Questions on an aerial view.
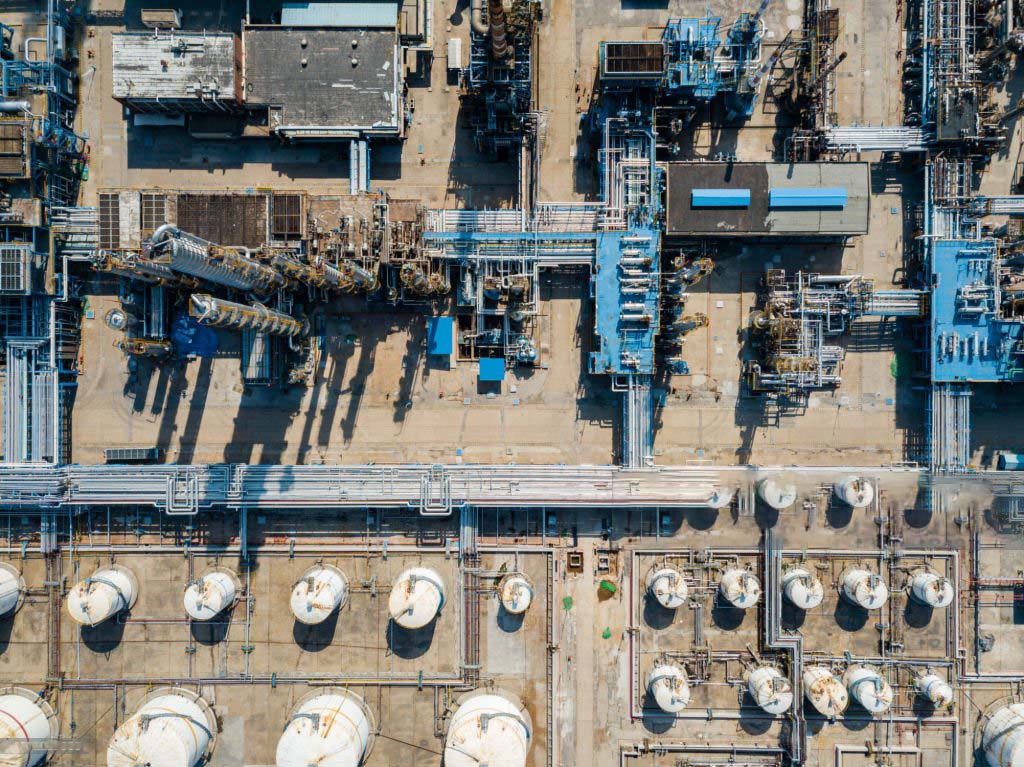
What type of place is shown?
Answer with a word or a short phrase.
industrial area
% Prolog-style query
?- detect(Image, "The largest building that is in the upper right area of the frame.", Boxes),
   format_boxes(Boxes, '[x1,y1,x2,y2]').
[660,163,869,241]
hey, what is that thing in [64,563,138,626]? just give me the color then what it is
white storage tank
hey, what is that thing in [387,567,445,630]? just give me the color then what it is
white storage tank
